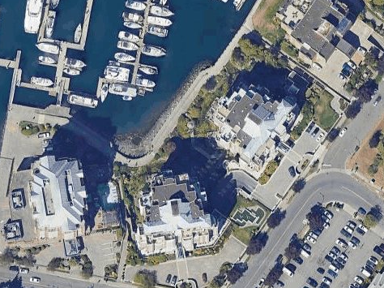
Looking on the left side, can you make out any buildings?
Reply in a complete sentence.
Yes, the scene does show a building on the left side.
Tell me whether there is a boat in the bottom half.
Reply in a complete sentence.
No, no boat appears in the bottom half.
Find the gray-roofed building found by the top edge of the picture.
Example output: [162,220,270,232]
[275,0,356,70]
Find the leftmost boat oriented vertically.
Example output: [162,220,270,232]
[23,0,41,37]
